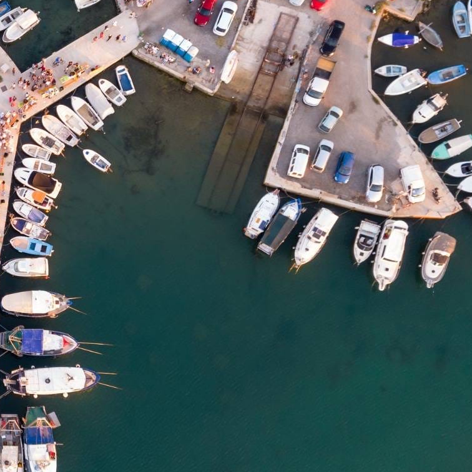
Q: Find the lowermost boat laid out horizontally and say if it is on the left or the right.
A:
left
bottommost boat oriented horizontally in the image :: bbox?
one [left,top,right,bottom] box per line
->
[0,363,118,398]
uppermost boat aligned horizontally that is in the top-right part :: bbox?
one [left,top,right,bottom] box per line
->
[378,32,420,50]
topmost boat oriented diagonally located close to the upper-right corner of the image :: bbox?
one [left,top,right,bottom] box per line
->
[418,21,443,52]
